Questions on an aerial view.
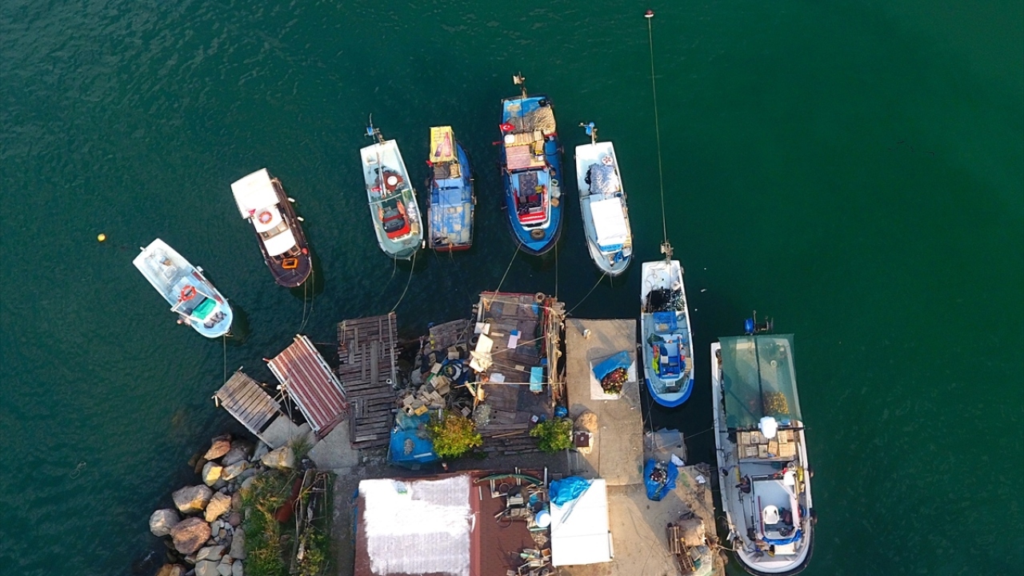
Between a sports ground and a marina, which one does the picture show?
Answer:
marina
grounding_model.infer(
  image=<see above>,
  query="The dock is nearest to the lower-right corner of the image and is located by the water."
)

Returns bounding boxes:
[565,319,644,485]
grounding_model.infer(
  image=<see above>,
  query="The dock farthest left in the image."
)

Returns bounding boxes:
[213,366,283,449]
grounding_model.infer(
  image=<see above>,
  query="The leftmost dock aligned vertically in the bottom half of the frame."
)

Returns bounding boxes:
[336,313,399,448]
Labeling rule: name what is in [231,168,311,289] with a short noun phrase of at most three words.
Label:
boat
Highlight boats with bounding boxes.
[359,114,424,261]
[709,310,816,576]
[575,122,634,276]
[132,238,235,340]
[231,168,311,289]
[492,72,564,258]
[639,242,694,410]
[426,136,475,251]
